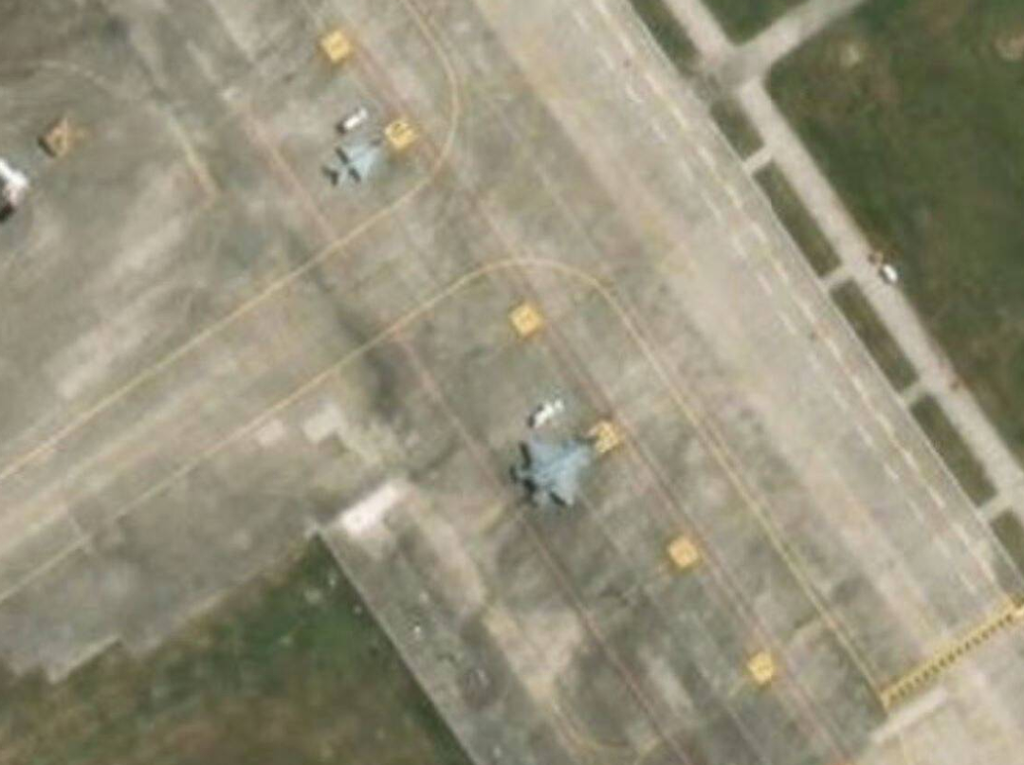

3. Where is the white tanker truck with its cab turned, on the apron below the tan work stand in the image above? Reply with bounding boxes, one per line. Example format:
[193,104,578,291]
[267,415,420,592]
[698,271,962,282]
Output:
[0,158,30,207]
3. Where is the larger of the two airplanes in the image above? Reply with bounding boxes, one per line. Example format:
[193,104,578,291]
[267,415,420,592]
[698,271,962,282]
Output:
[518,447,597,512]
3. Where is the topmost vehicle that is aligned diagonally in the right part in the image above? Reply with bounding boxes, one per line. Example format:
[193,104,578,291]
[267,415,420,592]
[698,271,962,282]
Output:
[880,263,898,284]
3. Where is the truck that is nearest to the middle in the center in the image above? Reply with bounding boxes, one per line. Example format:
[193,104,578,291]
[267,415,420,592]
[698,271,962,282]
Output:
[533,401,560,422]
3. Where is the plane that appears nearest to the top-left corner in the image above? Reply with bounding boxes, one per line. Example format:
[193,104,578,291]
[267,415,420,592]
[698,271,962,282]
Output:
[327,142,386,191]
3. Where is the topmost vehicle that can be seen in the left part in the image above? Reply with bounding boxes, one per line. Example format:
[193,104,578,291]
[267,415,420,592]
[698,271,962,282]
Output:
[341,109,368,130]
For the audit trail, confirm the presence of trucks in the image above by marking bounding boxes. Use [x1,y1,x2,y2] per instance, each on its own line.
[533,401,560,422]
[341,109,368,130]
[0,158,30,207]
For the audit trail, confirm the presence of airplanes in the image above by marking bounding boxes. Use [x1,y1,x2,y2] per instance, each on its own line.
[518,447,597,512]
[327,142,386,191]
